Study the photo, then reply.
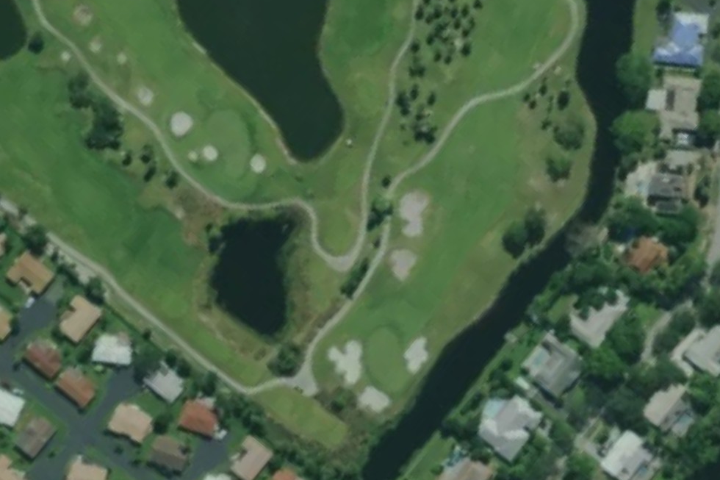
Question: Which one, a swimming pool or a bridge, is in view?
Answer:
swimming pool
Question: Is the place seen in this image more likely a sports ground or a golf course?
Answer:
golf course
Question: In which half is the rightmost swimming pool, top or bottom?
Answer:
bottom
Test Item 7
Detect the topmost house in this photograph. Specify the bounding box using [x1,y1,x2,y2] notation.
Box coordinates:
[655,13,710,68]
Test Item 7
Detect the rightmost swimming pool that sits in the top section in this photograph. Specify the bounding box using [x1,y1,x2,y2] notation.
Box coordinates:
[625,163,657,196]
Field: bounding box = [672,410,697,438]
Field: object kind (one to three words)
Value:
swimming pool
